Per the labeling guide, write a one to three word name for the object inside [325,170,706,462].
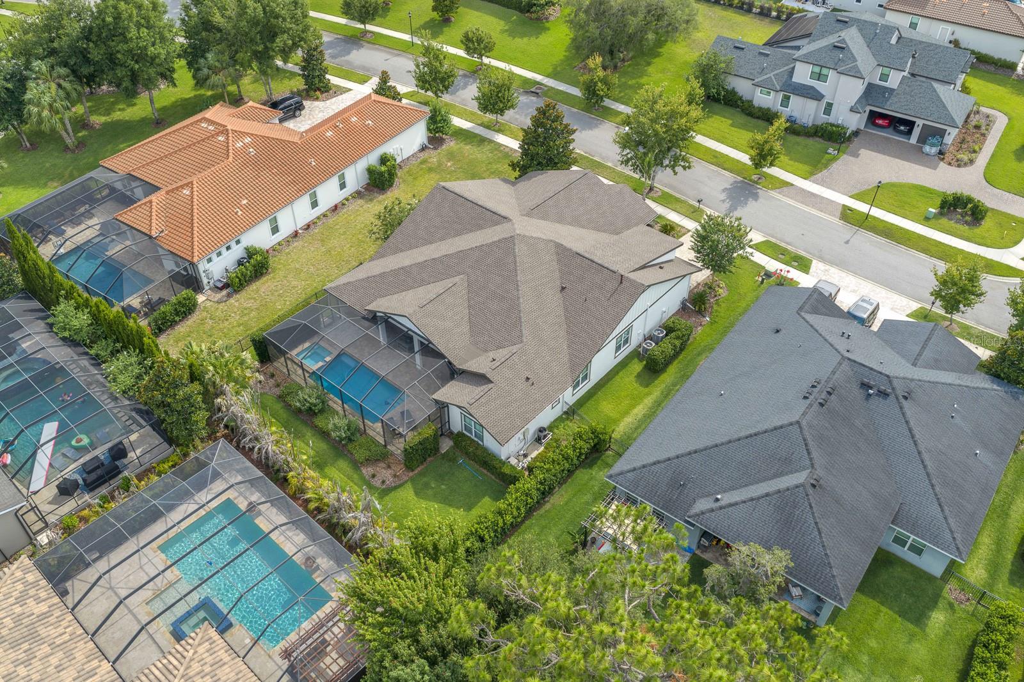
house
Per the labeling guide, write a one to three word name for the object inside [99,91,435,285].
house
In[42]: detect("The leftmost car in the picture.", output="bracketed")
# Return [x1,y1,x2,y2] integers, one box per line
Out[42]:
[273,95,311,123]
